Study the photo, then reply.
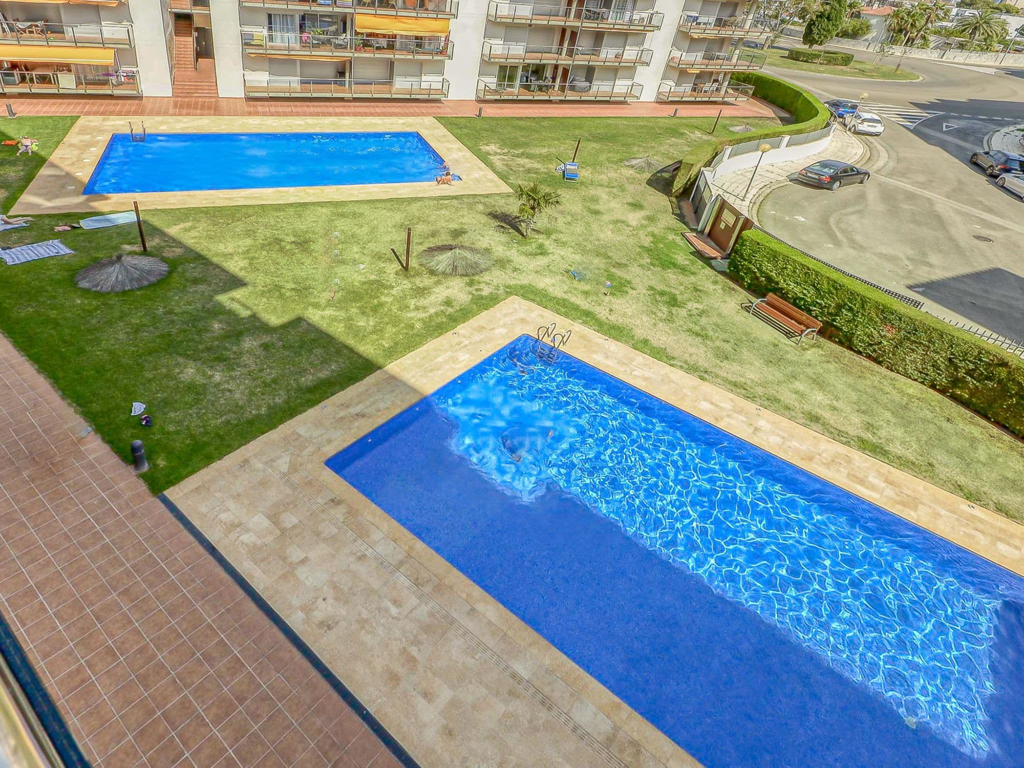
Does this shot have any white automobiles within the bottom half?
No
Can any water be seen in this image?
Yes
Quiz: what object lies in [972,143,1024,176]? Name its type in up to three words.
car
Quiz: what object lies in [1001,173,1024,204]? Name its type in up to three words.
car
